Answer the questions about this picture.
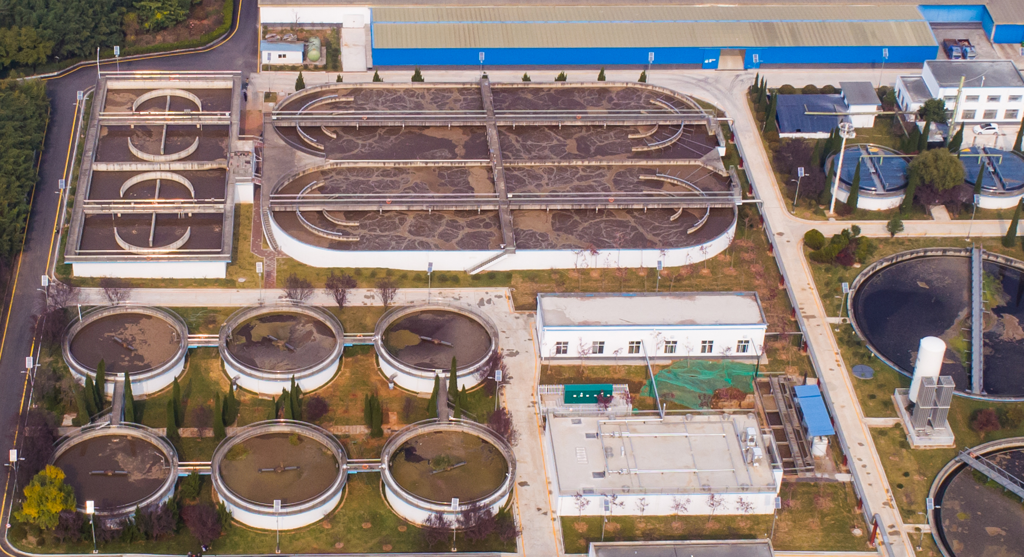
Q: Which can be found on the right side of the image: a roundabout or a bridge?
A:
bridge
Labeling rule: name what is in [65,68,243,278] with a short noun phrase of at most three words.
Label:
storage tank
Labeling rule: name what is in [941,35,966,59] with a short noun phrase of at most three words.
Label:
truck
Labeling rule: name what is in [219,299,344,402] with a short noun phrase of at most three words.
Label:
storage tank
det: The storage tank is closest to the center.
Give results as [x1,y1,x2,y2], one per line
[374,298,499,401]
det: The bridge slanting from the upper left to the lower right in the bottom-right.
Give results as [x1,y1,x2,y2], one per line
[957,447,1024,501]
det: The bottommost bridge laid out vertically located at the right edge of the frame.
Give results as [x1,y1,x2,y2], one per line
[959,240,991,399]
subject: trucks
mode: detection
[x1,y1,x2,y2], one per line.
[941,35,966,59]
[957,35,981,59]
